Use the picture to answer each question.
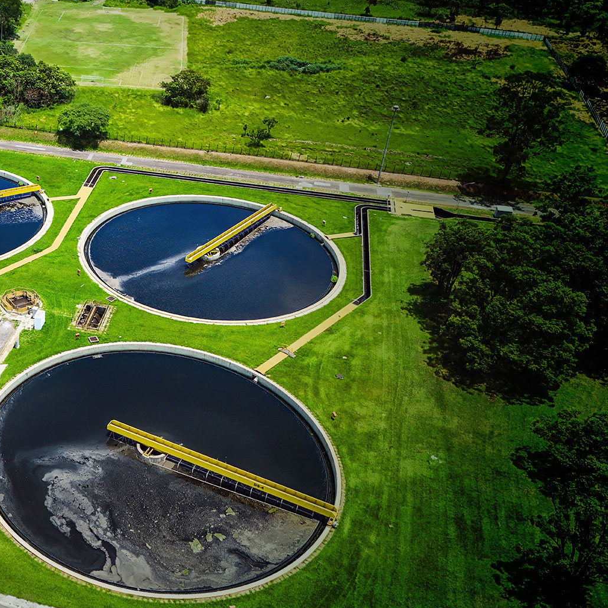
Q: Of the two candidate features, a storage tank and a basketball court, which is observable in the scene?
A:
storage tank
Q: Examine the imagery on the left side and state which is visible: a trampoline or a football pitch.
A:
football pitch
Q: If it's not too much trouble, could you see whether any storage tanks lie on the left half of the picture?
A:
Yes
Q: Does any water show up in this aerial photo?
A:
Yes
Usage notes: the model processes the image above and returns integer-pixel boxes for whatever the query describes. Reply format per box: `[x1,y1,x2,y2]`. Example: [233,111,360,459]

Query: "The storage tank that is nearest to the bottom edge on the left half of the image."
[0,342,346,607]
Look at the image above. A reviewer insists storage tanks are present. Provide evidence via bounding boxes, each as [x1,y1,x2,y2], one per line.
[0,342,346,607]
[75,194,348,329]
[0,170,53,262]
